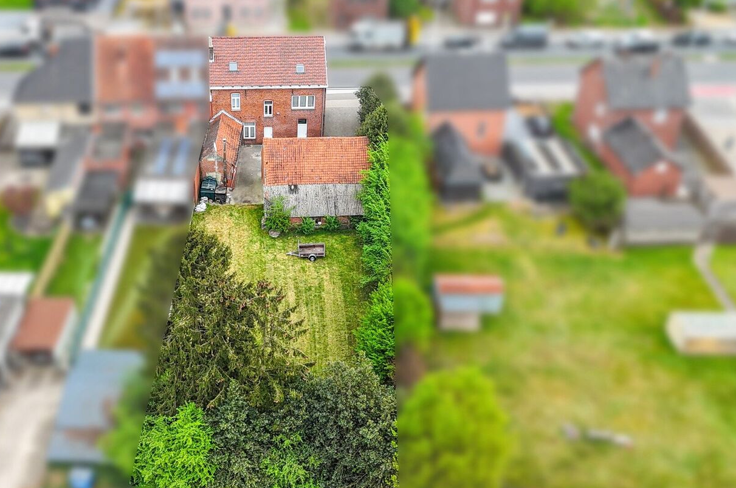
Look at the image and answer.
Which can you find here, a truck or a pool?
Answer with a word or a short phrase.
truck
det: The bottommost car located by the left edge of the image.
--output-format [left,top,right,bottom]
[0,41,35,60]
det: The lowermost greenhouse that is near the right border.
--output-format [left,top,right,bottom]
[662,318,736,352]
